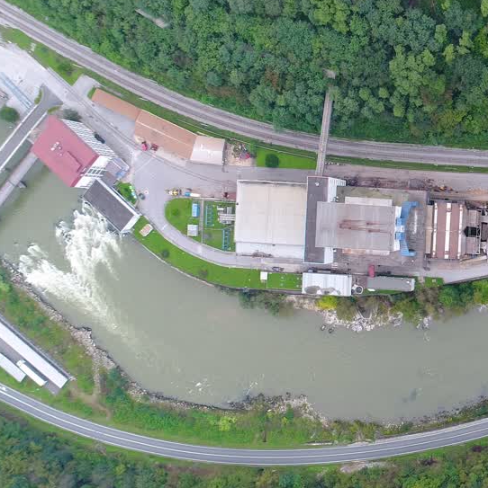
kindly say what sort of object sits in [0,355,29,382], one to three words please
shed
